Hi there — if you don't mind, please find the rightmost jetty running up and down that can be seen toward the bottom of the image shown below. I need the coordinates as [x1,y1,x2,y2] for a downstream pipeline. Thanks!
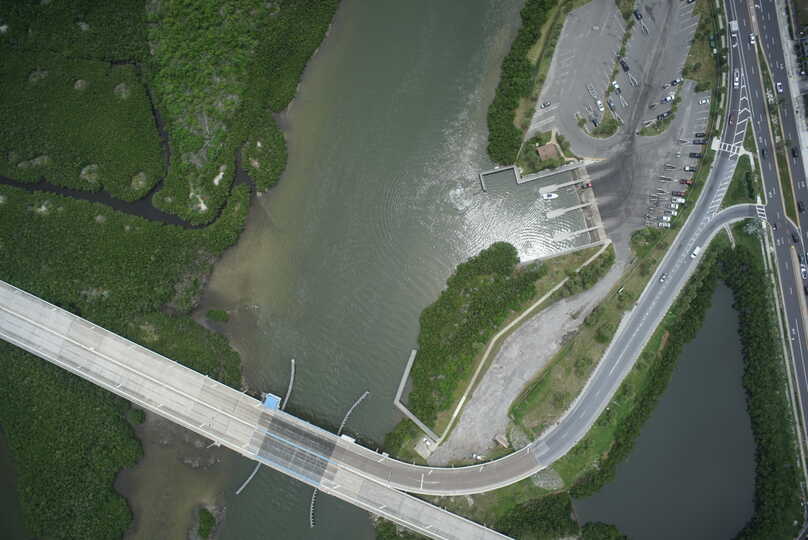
[395,348,439,443]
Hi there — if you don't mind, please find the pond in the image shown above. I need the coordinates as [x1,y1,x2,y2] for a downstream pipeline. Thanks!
[574,281,757,540]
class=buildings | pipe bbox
[539,141,559,159]
[264,391,282,410]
